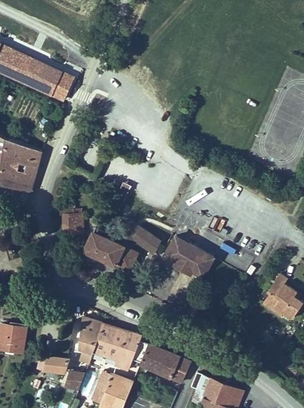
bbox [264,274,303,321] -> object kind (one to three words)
house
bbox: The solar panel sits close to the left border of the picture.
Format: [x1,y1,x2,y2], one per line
[0,66,52,95]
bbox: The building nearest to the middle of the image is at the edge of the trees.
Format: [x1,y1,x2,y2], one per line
[132,226,162,254]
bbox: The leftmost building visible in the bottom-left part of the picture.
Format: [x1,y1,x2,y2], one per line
[0,324,28,354]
